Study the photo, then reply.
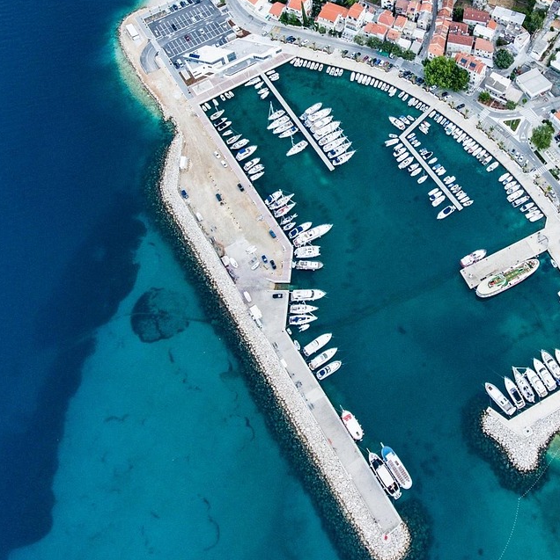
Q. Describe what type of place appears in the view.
port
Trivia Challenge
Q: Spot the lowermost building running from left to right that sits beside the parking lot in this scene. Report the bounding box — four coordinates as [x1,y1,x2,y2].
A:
[183,40,283,83]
